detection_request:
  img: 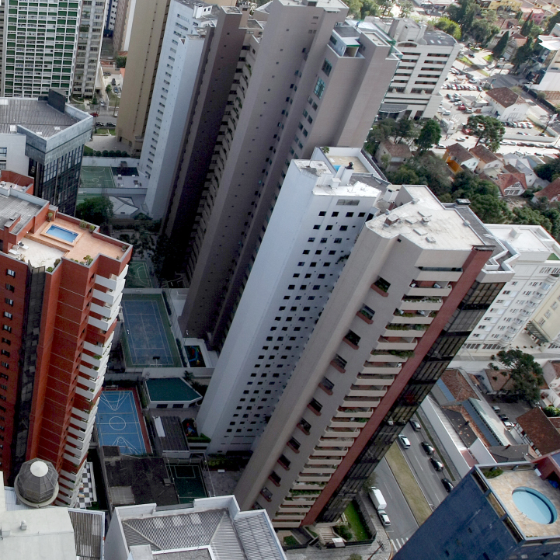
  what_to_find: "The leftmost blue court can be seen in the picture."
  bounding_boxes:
[97,384,151,462]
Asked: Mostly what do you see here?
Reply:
buildings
